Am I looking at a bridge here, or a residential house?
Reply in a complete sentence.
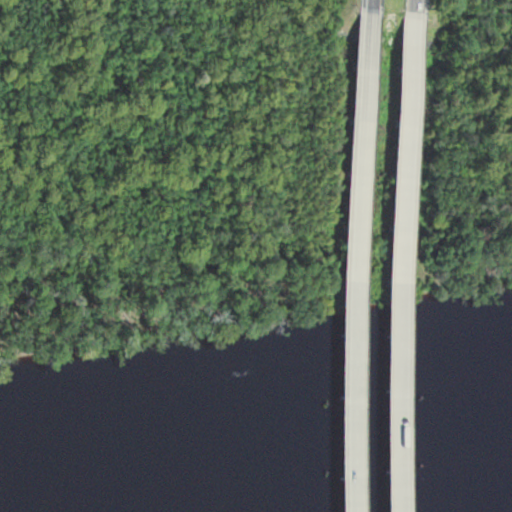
I can see a bridge in this picture.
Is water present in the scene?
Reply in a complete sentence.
Yes, water can be seen from above here.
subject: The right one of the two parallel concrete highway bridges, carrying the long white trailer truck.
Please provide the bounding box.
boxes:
[386,12,427,512]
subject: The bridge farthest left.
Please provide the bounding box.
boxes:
[341,12,381,512]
